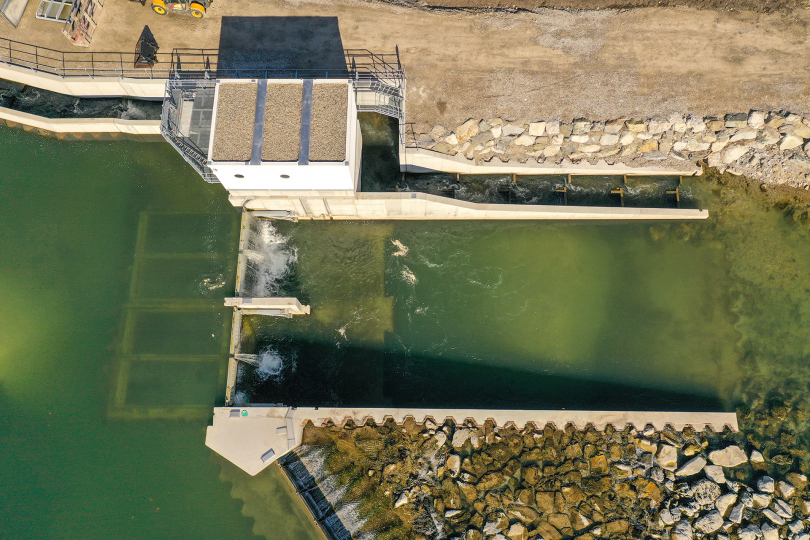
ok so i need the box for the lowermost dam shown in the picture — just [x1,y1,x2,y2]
[278,448,357,540]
